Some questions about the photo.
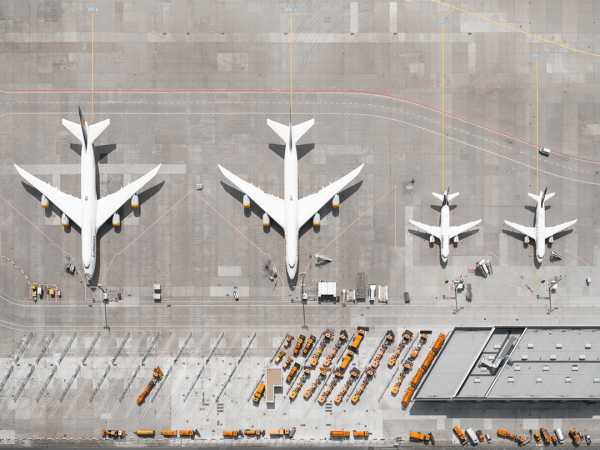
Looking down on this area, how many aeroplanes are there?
4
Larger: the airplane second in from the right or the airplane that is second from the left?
the airplane that is second from the left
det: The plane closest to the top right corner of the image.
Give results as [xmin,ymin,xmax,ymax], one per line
[504,186,578,261]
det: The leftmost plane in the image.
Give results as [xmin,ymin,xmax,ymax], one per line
[15,105,161,279]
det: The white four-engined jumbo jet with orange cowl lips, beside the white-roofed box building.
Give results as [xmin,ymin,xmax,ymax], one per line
[218,108,363,279]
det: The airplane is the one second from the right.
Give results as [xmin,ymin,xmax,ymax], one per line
[409,188,482,261]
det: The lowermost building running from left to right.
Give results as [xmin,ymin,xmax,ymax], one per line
[412,325,600,400]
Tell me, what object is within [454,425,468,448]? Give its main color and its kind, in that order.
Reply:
orange vehicle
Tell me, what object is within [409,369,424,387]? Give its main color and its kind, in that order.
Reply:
orange vehicle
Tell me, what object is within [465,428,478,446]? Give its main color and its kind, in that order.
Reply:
white vehicle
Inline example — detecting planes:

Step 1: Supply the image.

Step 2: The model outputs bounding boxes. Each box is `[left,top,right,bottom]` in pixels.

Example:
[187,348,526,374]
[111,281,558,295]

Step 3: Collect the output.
[504,186,578,261]
[15,105,161,279]
[218,108,363,279]
[409,188,482,261]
